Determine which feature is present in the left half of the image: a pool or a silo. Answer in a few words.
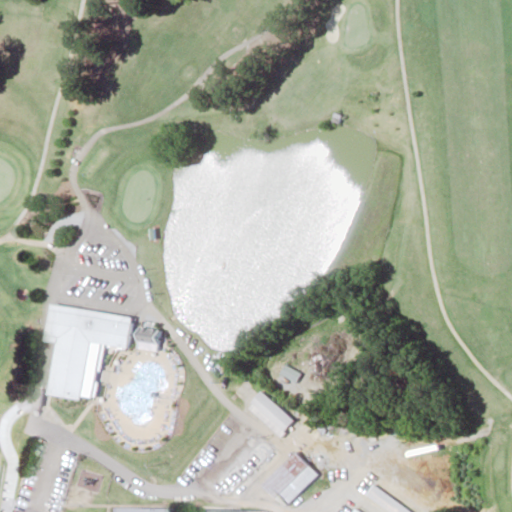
pool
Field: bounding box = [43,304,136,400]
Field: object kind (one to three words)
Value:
building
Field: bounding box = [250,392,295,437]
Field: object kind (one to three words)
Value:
barn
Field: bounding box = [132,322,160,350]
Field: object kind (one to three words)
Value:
building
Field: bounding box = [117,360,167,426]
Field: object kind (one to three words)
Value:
swimming pool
